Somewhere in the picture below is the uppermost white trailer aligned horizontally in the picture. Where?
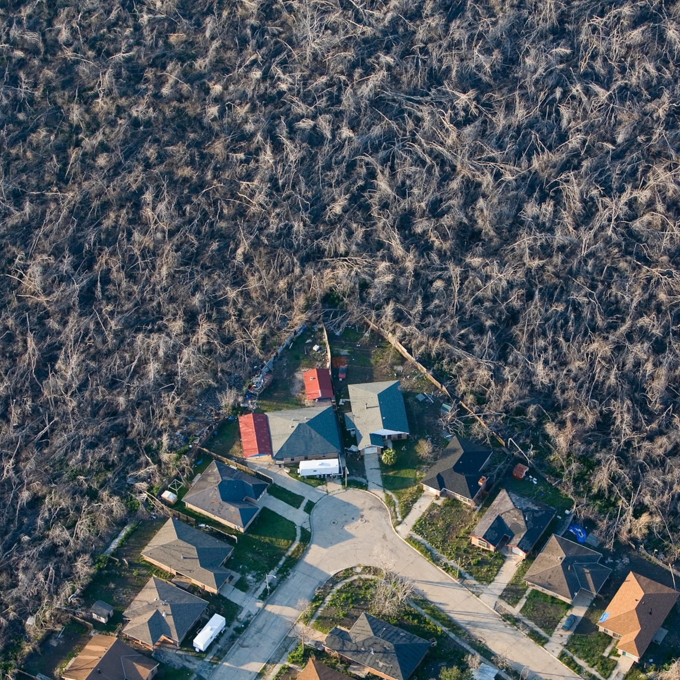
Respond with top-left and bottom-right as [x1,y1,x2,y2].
[296,459,339,479]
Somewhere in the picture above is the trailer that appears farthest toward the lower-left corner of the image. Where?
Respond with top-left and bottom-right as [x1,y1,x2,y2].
[193,615,225,652]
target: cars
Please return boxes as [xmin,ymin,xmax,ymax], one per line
[338,364,347,379]
[561,613,579,632]
[305,637,325,651]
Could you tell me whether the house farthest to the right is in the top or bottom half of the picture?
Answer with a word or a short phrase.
bottom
